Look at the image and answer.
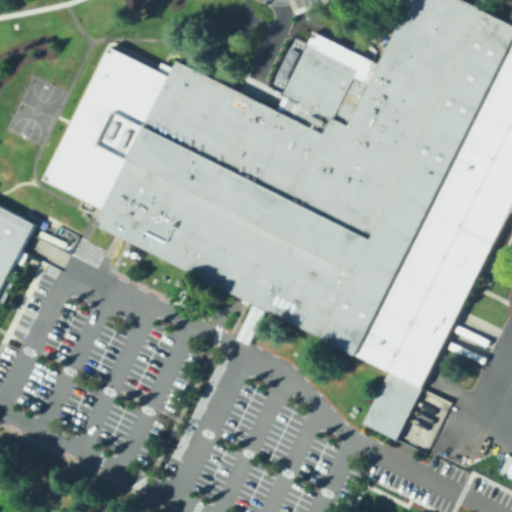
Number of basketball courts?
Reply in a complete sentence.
The photo contains exactly 1 basketball court.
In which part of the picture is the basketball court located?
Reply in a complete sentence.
The basketball court sits in the top left section of the image.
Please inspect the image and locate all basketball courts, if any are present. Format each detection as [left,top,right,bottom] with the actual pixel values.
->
[7,73,68,148]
